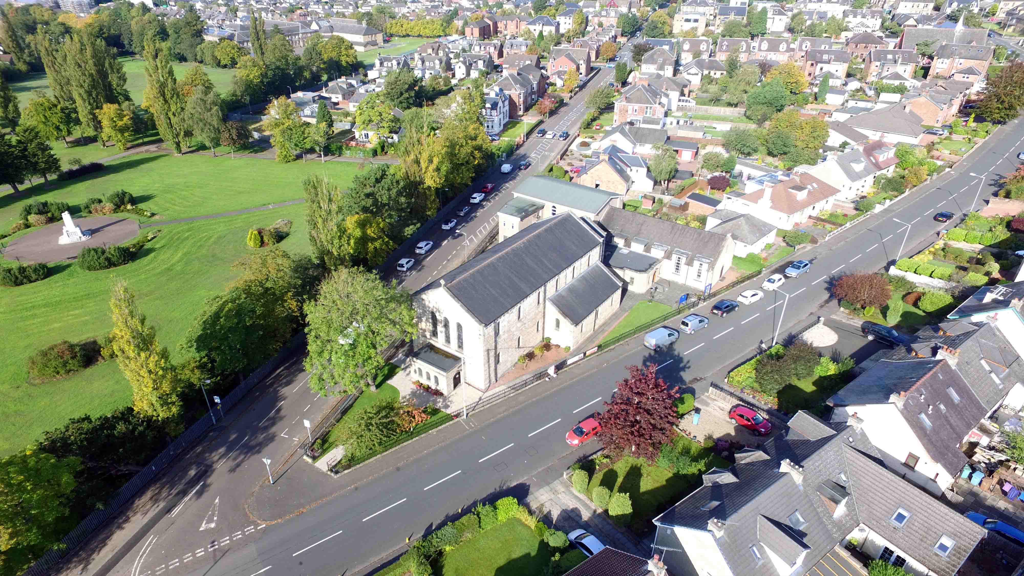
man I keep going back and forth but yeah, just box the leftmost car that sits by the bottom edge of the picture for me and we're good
[563,518,610,554]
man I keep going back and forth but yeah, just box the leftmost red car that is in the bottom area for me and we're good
[565,414,600,444]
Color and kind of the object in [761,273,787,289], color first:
white car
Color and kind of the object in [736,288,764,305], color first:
white car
